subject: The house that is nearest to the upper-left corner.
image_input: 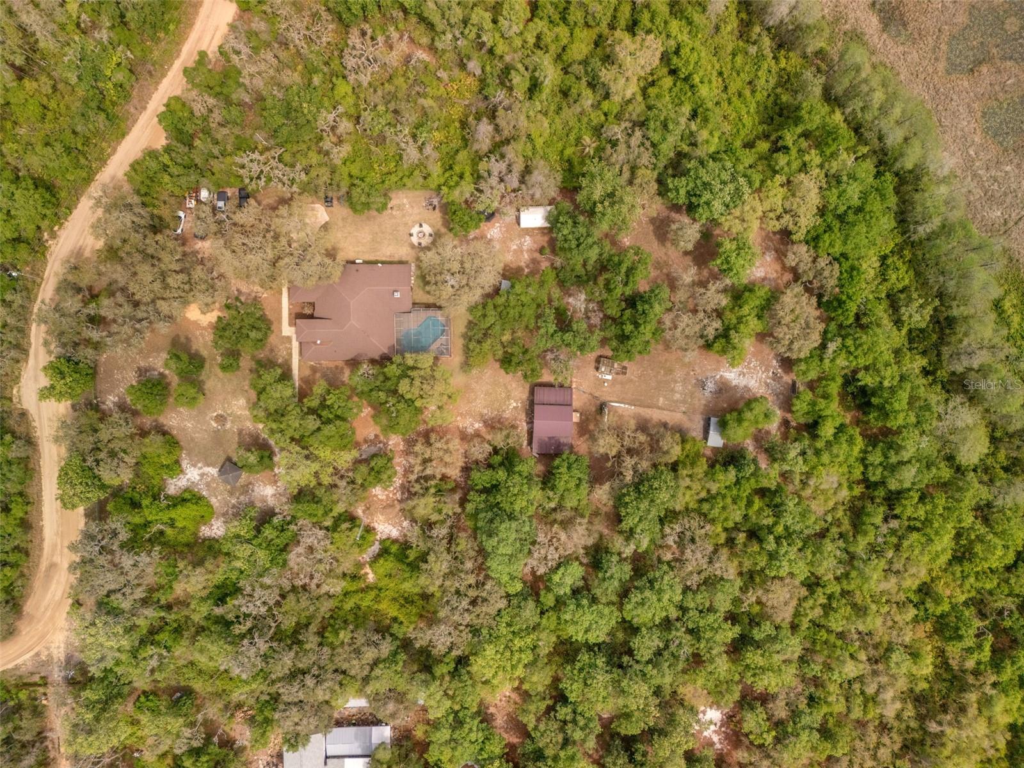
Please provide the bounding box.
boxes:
[289,263,411,360]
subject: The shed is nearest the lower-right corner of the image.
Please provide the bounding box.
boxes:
[706,417,722,447]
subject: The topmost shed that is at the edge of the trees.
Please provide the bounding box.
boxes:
[520,206,552,230]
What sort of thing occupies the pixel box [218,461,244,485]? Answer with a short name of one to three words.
gazebo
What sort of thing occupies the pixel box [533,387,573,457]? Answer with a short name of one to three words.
barn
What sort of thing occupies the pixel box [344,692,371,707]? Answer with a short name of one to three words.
shed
